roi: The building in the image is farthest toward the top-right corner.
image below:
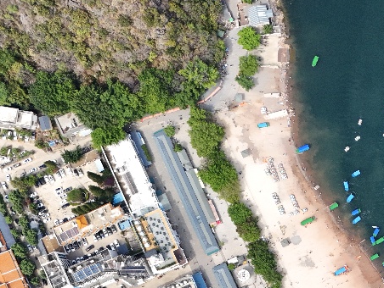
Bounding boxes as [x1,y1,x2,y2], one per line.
[238,3,275,26]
